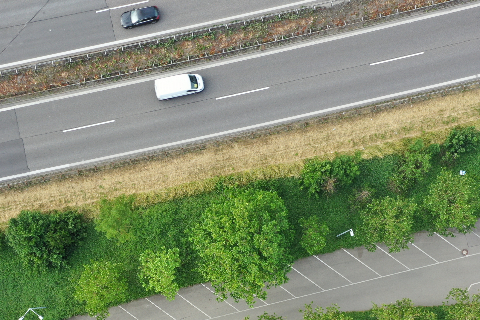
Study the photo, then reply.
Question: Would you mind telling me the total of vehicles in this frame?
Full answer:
Looking from above, you can make out 2 vehicles.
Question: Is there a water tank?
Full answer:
No, the photo shows no water tank.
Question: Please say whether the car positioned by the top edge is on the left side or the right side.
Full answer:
You can find the car positioned by the top edge on the left side of the picture.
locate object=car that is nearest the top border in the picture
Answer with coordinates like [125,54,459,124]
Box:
[120,4,161,29]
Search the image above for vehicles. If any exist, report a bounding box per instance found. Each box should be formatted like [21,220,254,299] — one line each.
[120,4,161,29]
[154,72,204,101]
